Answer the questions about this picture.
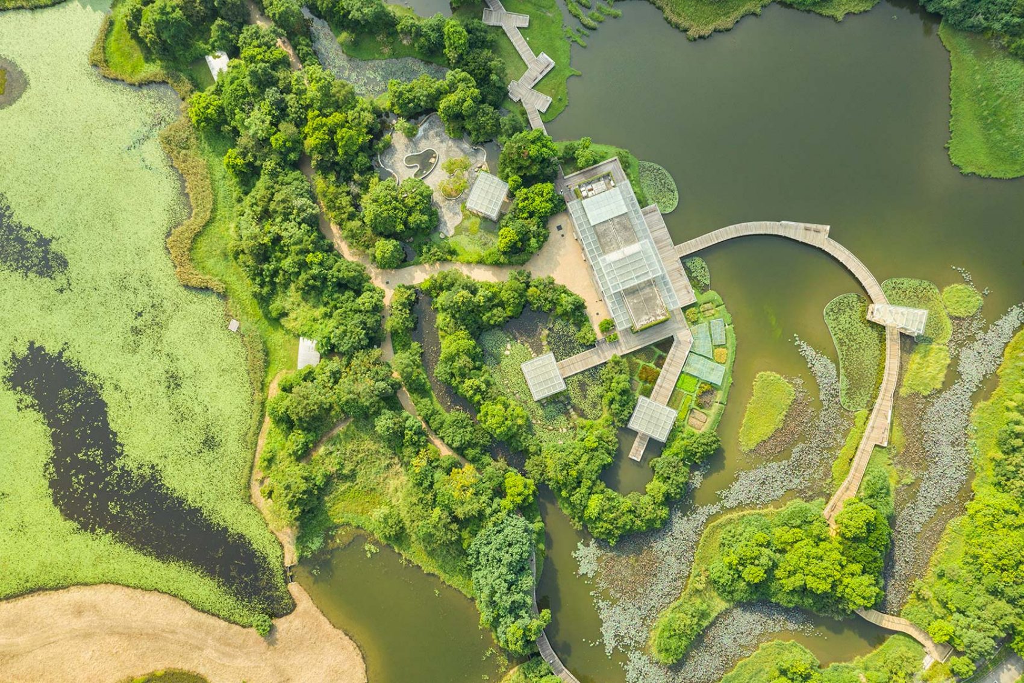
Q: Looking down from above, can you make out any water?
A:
Yes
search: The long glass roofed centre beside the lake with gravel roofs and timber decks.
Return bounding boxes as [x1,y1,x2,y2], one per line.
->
[556,157,698,407]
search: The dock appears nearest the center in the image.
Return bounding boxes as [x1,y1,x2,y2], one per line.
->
[628,430,652,462]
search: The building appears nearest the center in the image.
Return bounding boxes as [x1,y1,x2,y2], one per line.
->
[521,352,566,401]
